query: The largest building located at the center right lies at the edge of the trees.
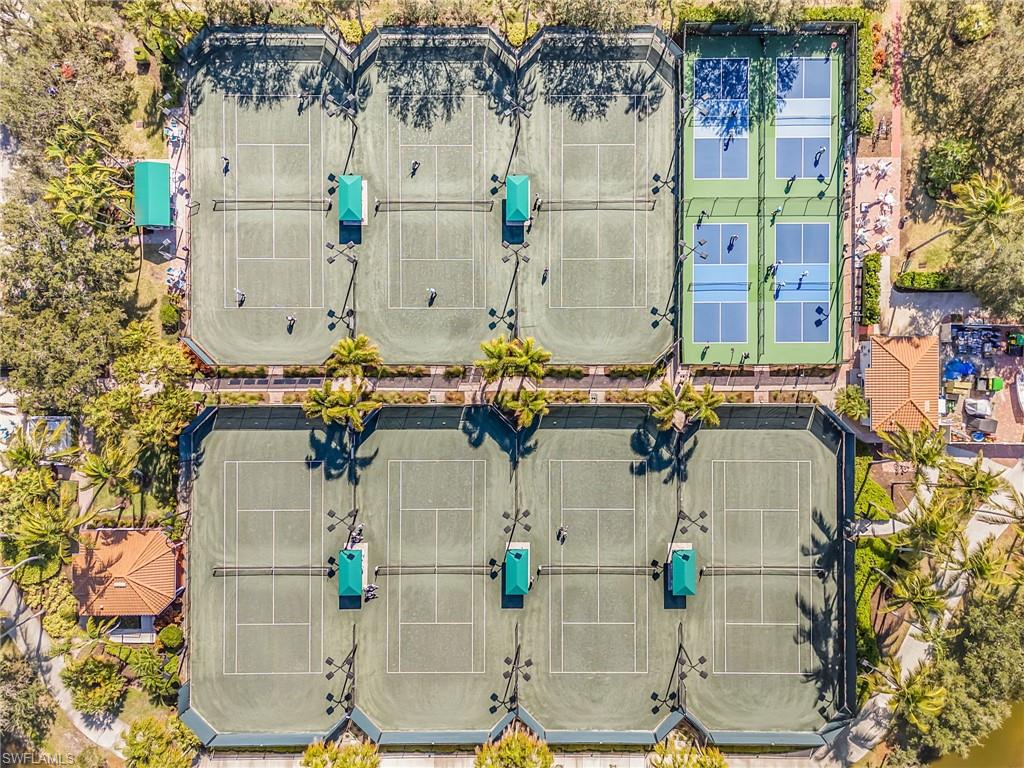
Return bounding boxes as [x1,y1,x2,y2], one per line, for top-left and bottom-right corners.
[862,335,940,432]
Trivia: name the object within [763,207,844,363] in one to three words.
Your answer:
sports court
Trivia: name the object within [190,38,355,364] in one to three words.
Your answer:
tennis court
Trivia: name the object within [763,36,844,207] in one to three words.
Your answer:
sports court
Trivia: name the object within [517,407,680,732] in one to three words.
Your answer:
tennis court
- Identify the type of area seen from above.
sports ground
